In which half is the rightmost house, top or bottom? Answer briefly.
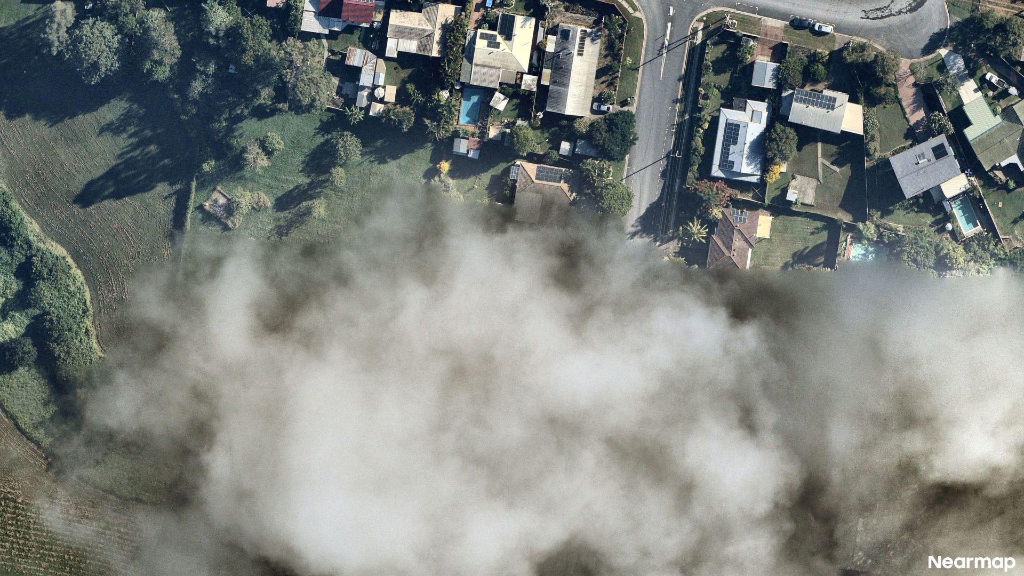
top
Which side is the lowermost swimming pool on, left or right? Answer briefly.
right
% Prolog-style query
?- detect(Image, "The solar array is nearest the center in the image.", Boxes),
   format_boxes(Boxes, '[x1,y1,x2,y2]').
[535,166,563,183]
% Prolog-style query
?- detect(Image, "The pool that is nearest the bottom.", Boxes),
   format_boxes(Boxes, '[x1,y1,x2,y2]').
[844,235,890,268]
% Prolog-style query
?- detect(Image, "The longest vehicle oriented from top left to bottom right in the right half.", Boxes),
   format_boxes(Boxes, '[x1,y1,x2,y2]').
[986,72,1008,90]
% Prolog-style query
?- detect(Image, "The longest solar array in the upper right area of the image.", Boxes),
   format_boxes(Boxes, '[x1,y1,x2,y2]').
[794,89,836,110]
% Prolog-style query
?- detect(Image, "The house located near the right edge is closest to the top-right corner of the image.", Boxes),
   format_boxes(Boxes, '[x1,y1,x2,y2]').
[962,96,1024,172]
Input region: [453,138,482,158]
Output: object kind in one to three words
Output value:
shed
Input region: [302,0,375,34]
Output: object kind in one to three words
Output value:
house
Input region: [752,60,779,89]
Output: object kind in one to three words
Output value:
building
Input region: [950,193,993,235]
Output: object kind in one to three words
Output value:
swimming pool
